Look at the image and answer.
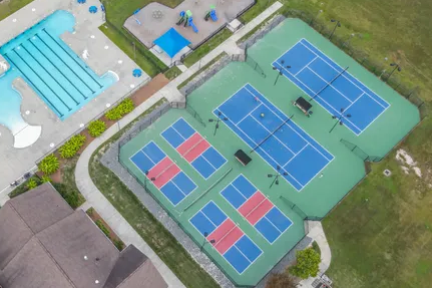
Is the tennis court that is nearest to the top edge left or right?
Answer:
right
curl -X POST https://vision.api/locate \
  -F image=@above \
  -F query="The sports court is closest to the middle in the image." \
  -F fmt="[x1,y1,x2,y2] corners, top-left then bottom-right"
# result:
[161,117,228,179]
